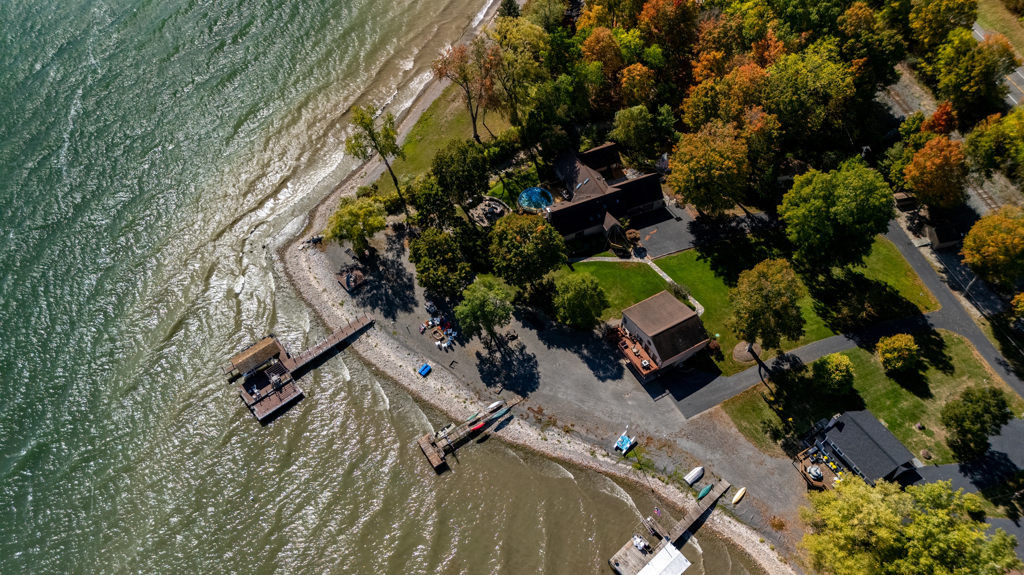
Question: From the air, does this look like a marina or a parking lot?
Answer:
marina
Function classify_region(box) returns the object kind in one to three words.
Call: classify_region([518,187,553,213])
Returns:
swimming pool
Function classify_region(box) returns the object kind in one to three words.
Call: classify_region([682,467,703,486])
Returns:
boat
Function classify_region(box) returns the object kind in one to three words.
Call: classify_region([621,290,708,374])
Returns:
building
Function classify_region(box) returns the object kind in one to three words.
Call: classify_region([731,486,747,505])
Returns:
boat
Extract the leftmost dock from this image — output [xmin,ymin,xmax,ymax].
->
[220,309,376,423]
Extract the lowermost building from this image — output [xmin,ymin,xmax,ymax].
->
[638,542,691,575]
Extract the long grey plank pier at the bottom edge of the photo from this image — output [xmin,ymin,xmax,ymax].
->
[608,480,730,575]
